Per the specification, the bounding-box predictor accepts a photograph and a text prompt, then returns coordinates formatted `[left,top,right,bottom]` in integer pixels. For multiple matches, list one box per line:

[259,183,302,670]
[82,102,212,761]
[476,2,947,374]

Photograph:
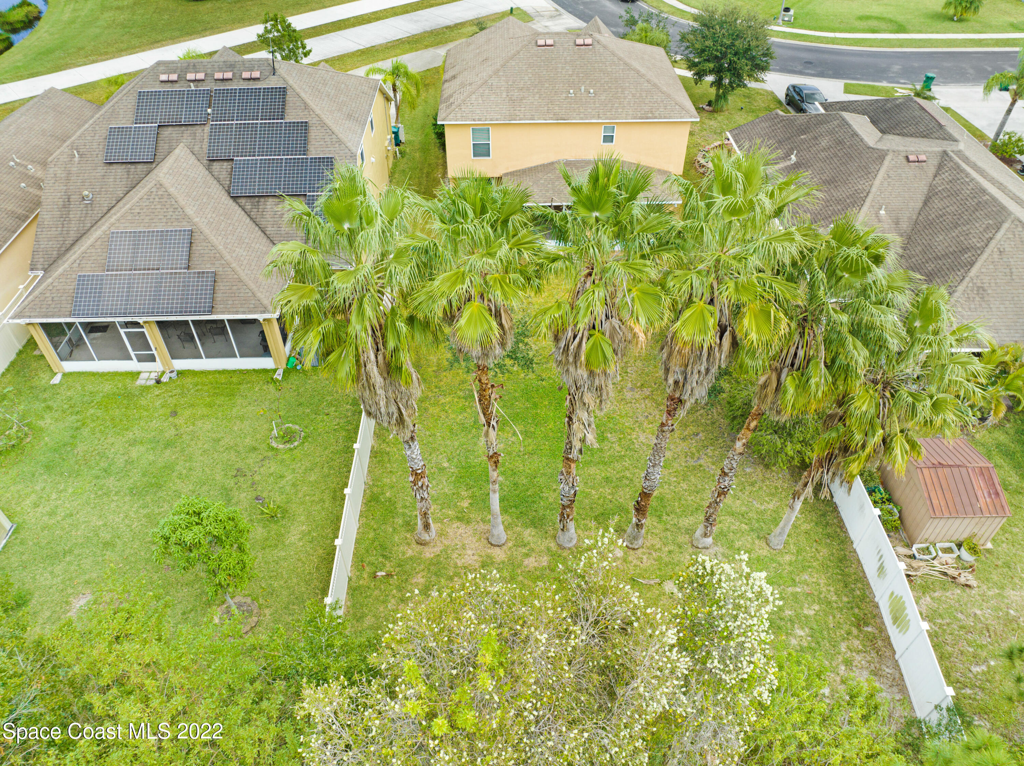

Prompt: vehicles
[783,83,837,114]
